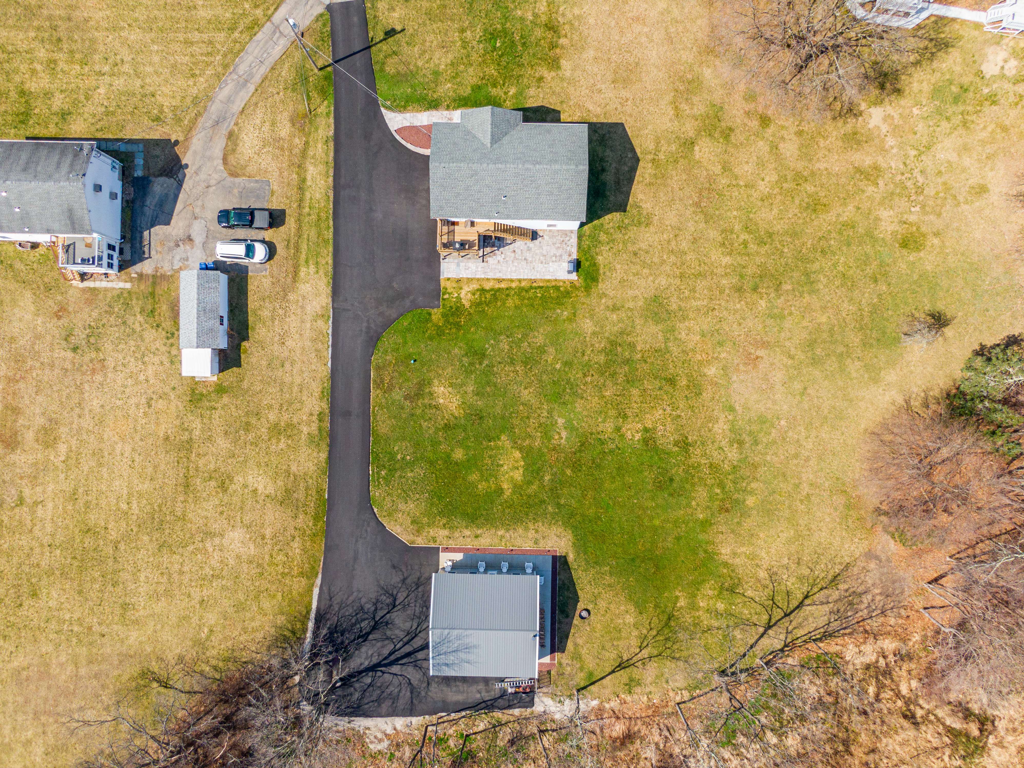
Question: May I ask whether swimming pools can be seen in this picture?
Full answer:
No, no swimming pool is visible in the scene.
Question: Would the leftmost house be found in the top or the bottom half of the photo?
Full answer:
You can find the leftmost house in the top half.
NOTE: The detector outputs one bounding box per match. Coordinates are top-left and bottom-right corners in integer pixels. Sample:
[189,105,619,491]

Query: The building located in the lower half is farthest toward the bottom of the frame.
[430,568,539,678]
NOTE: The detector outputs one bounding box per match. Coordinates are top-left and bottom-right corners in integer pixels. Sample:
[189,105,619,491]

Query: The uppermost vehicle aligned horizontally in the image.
[217,206,276,232]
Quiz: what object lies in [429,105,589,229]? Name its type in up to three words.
house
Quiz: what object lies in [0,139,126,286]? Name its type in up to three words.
house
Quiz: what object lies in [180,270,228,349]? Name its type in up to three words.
shed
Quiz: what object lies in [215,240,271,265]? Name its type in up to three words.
car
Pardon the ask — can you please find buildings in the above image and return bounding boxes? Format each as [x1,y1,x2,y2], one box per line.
[180,270,228,349]
[0,139,126,286]
[429,105,589,229]
[430,568,539,678]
